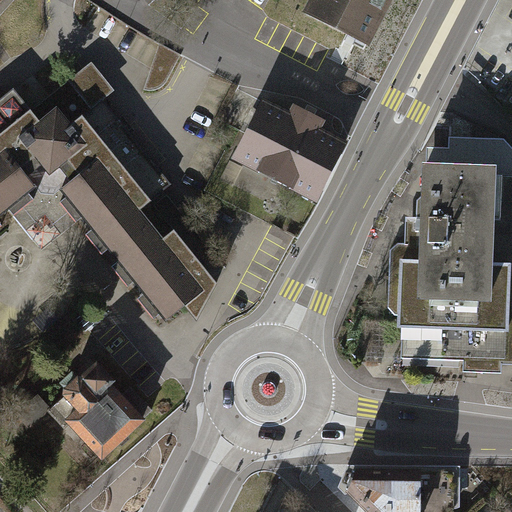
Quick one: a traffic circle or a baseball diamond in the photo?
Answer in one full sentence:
It is a traffic circle that can be seen here.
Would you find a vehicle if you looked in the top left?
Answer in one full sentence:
Yes, there is a vehicle in the top left.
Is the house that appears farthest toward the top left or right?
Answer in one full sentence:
The house that appears farthest toward the top sits on the right side.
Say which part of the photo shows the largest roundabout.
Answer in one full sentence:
Look in the bottom portion of the view to spot the largest roundabout.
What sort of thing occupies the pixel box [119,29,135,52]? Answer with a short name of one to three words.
car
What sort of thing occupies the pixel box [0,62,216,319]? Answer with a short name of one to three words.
building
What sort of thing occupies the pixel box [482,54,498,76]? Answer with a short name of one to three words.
car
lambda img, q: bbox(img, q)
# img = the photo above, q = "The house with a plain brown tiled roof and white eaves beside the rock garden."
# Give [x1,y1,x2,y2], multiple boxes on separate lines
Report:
[302,0,392,50]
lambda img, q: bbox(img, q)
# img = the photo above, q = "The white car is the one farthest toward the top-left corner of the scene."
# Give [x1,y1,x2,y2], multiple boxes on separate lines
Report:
[99,16,116,38]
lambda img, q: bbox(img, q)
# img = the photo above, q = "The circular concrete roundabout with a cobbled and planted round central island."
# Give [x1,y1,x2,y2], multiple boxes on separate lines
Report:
[204,322,336,456]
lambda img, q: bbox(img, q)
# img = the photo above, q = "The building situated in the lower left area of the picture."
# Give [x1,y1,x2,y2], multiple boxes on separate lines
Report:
[50,362,152,460]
